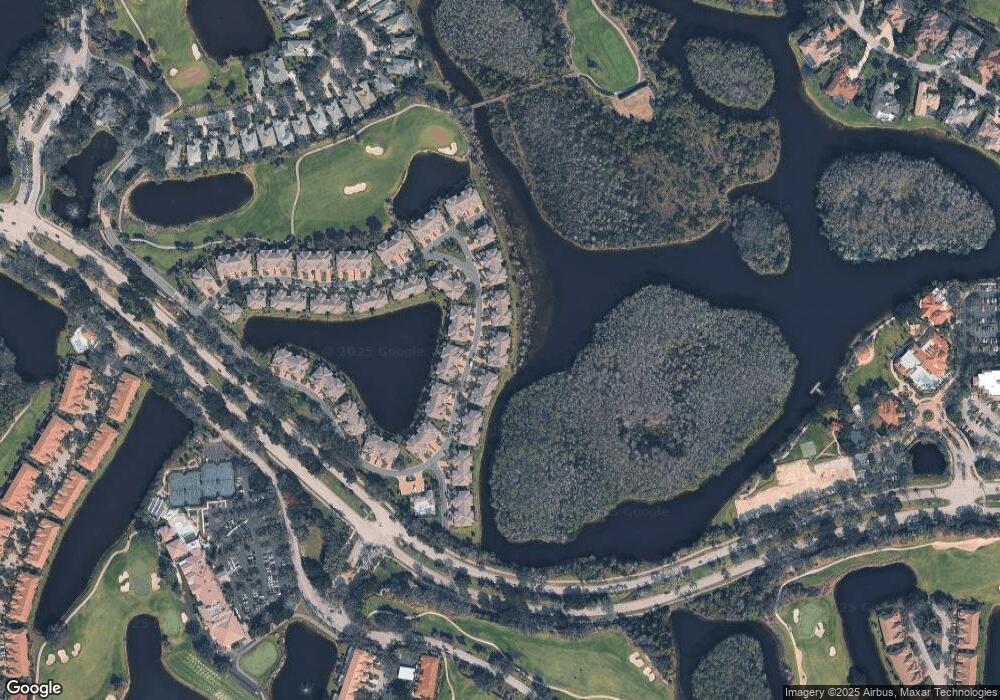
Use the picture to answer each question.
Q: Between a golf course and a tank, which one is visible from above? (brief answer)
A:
golf course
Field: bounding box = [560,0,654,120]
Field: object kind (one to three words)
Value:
golf course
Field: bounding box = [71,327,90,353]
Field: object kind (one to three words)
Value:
swimming pool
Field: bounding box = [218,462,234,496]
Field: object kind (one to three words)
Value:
tennis court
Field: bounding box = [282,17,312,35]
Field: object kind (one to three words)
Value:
house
